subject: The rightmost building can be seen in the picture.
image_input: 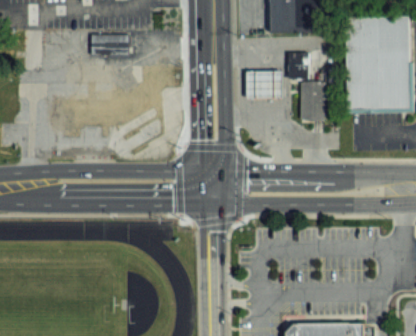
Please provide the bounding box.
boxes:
[346,16,416,116]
